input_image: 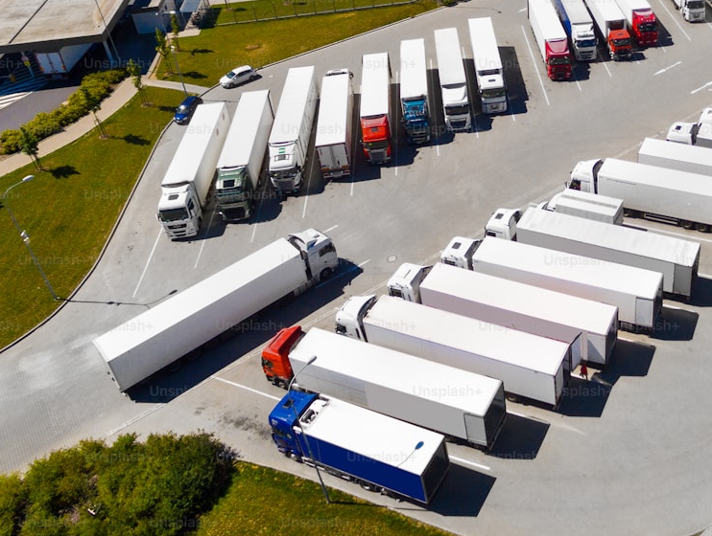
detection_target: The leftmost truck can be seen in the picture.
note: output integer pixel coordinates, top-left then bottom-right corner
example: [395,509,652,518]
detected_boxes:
[34,45,97,78]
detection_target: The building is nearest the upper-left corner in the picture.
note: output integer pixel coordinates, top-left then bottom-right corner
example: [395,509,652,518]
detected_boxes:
[132,0,177,34]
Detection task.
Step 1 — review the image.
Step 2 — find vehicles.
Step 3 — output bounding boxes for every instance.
[258,326,506,449]
[387,263,618,369]
[93,229,341,396]
[154,101,233,239]
[171,93,204,119]
[615,0,661,47]
[566,158,712,231]
[259,392,451,509]
[583,0,636,60]
[434,27,474,130]
[211,89,277,221]
[316,67,355,178]
[400,38,434,144]
[469,17,508,115]
[330,293,571,407]
[442,236,663,334]
[553,0,600,63]
[541,188,623,226]
[360,52,396,165]
[220,61,259,84]
[528,0,576,80]
[265,67,319,190]
[670,0,710,24]
[485,207,701,300]
[34,45,97,78]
